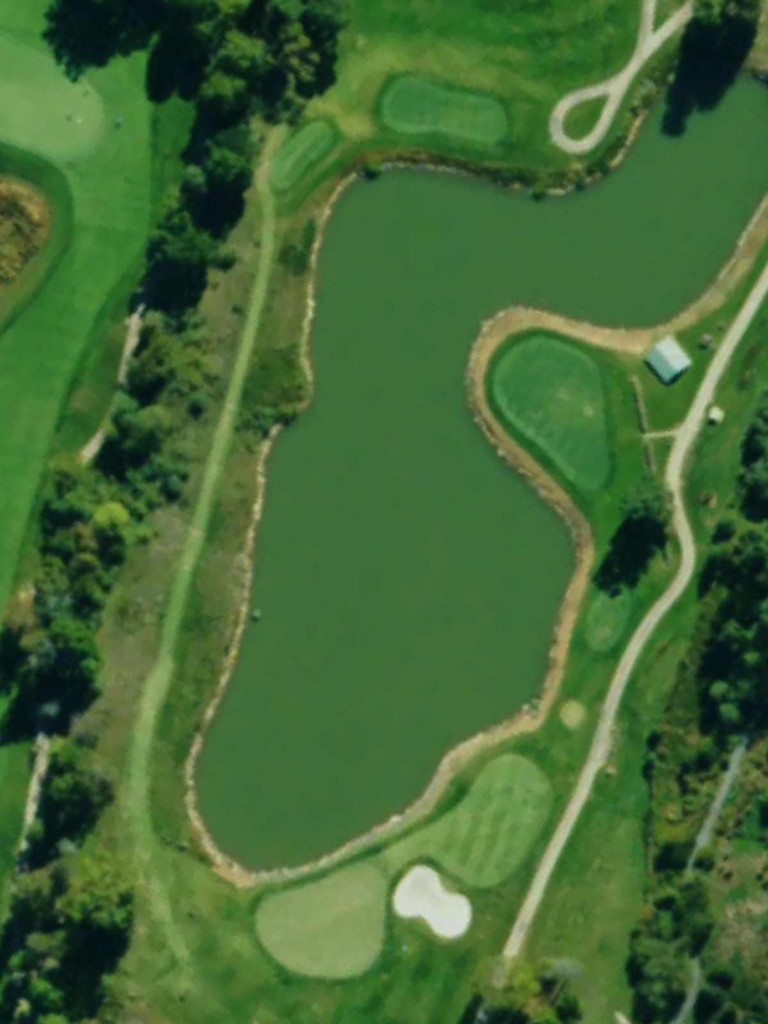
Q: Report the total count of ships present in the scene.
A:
0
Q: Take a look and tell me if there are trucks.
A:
No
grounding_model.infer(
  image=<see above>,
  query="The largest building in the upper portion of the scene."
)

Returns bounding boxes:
[644,337,692,382]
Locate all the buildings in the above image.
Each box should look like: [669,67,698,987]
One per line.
[644,337,692,382]
[708,406,725,424]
